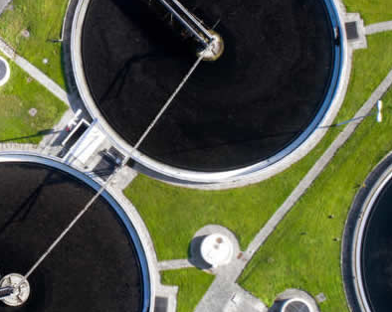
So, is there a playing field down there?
No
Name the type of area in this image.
industrial area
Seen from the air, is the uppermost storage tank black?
Yes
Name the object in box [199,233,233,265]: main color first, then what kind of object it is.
white storage tank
